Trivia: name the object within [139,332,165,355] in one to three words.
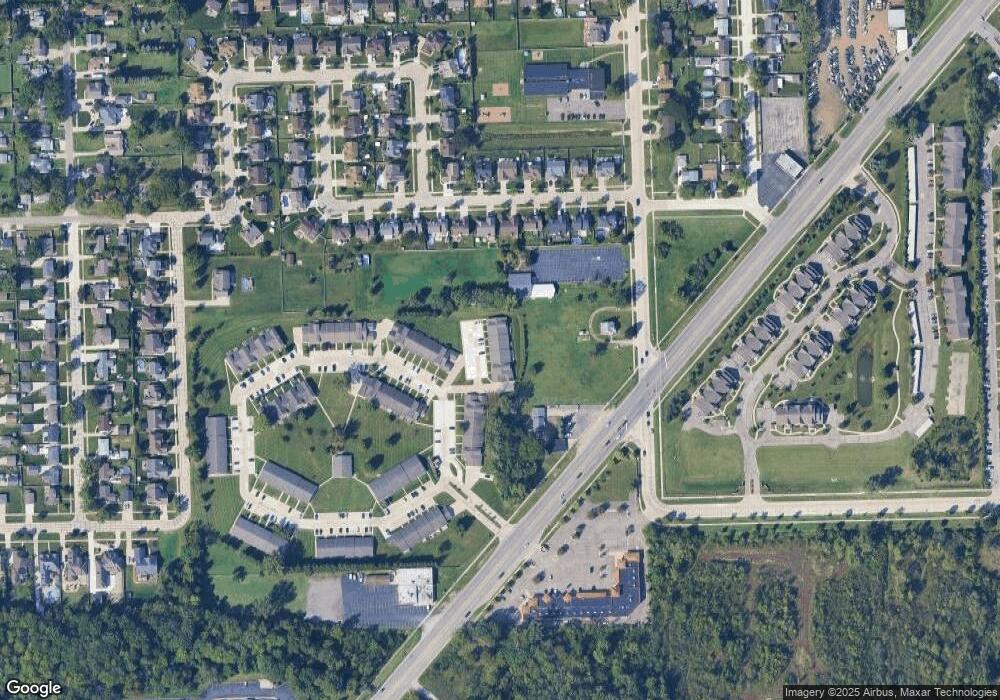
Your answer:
house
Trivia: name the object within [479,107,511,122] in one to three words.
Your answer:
playground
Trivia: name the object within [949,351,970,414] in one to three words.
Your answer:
sports court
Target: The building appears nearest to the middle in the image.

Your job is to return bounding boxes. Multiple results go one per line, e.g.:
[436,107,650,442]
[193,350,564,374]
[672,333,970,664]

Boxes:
[487,317,513,383]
